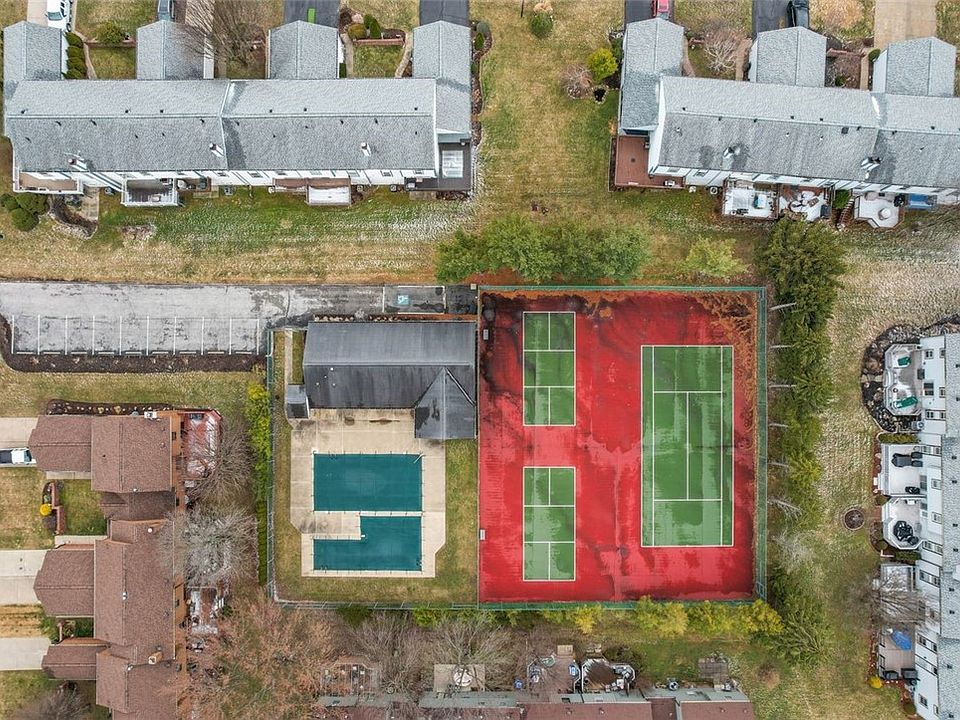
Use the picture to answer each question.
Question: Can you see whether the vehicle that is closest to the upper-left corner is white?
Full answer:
Yes, the vehicle that is closest to the upper-left corner appears white.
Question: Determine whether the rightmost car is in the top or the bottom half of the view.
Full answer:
It is in the top half that the rightmost car appears.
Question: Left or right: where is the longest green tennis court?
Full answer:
The longest green tennis court sits on the right side.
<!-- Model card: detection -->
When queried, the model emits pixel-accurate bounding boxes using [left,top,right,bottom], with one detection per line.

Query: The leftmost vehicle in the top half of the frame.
[46,0,72,35]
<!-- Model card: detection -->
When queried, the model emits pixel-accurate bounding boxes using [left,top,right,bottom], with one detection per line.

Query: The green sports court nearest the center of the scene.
[523,311,576,426]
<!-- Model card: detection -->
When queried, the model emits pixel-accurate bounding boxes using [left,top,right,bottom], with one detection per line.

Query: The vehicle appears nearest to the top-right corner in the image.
[787,0,810,28]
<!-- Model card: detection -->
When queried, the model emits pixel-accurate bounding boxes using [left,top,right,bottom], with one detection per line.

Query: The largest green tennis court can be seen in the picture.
[641,346,733,547]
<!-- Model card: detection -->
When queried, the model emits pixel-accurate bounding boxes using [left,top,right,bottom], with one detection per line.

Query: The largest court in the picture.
[479,291,758,601]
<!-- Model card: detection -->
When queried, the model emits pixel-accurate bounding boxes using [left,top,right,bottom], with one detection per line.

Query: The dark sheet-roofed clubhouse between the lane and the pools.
[302,322,476,442]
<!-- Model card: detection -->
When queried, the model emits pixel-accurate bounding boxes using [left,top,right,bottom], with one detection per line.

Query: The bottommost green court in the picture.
[523,467,576,580]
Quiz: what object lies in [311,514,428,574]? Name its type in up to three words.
swimming pool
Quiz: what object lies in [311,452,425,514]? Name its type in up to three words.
swimming pool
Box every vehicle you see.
[652,0,671,21]
[46,0,72,35]
[156,0,178,22]
[787,0,810,28]
[0,447,36,468]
